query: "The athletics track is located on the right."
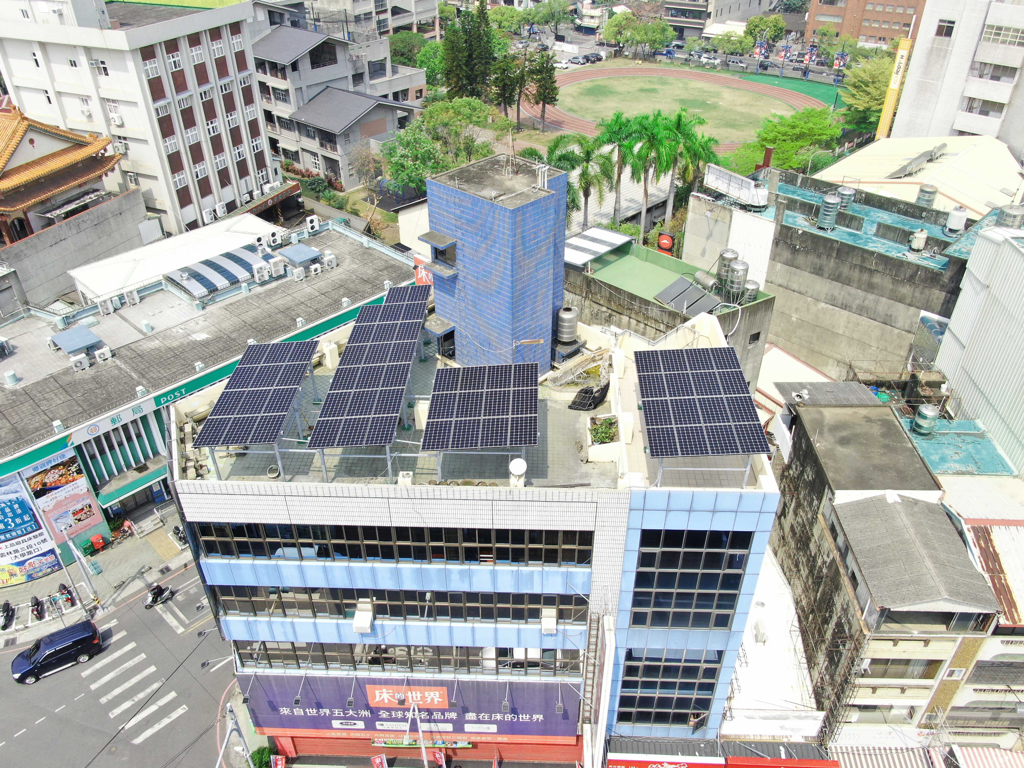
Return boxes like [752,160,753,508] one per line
[520,68,842,154]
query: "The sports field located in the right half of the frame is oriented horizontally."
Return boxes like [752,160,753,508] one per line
[555,75,802,143]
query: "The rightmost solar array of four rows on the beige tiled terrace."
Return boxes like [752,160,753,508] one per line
[634,347,769,485]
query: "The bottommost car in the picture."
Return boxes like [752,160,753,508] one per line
[5,618,100,688]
